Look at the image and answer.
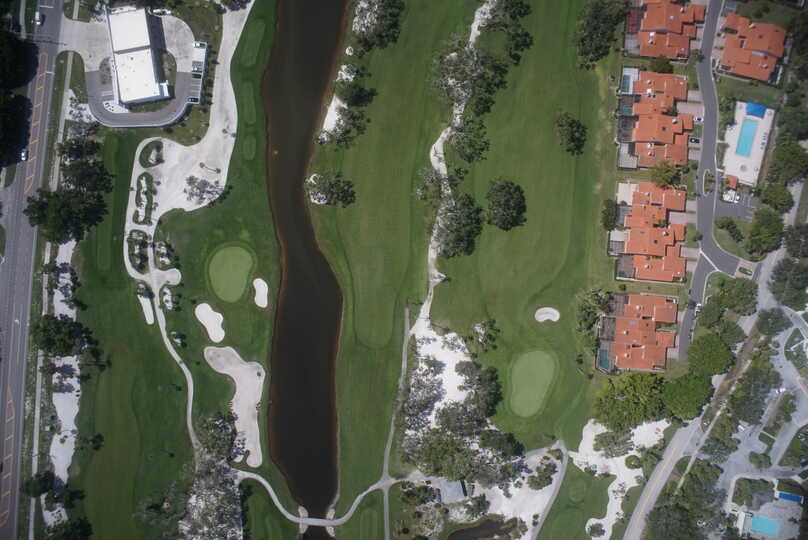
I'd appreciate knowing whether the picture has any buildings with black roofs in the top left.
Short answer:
No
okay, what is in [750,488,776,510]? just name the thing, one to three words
building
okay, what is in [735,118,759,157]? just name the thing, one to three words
swimming pool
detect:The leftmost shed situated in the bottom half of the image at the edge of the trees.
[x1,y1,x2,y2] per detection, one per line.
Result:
[440,478,466,503]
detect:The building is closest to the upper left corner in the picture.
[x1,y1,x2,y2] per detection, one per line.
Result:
[109,6,167,107]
